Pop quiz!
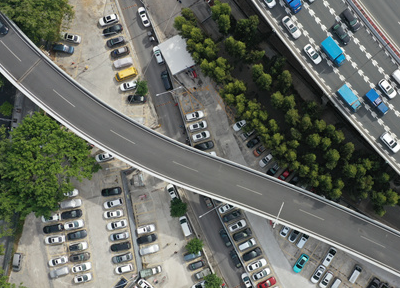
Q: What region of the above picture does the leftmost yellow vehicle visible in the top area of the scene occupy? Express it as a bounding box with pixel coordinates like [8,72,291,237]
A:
[115,67,139,81]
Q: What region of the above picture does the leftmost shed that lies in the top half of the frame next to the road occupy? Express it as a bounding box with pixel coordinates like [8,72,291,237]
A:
[158,35,199,78]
